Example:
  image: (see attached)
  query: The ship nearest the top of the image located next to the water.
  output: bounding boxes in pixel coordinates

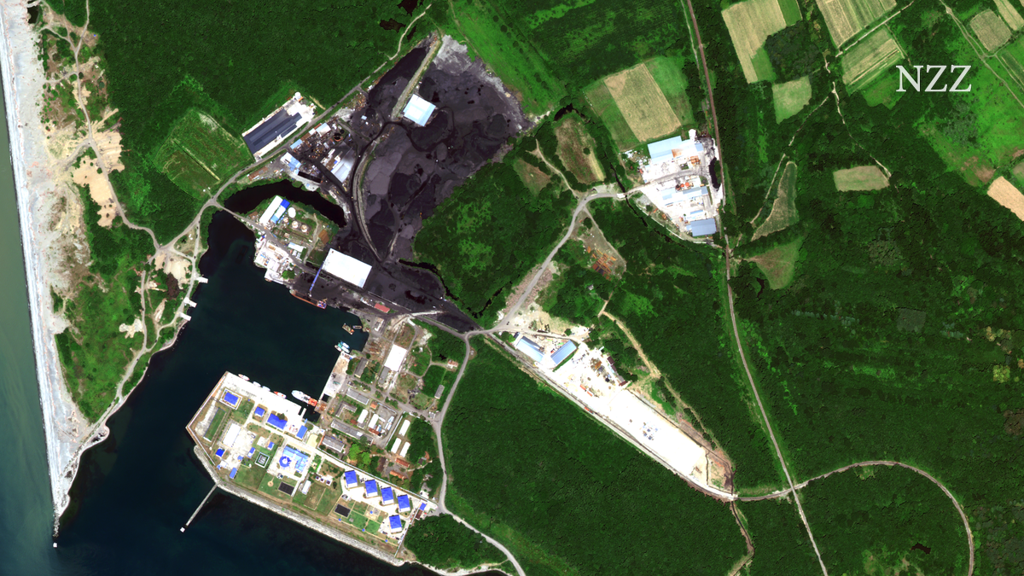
[290,290,327,308]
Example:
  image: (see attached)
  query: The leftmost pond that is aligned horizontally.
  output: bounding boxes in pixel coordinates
[225,179,346,228]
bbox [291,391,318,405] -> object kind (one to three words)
ship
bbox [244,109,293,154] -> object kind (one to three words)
building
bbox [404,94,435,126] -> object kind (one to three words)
shed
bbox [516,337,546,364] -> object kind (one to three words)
building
